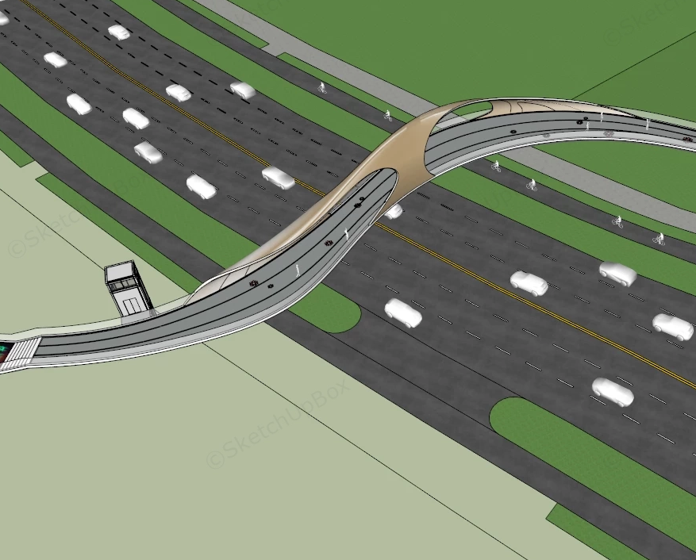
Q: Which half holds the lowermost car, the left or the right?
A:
right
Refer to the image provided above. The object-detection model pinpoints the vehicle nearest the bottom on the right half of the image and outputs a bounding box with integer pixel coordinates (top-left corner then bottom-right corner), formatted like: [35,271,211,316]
[593,379,634,409]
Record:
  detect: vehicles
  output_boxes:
[593,379,634,409]
[66,93,92,113]
[44,50,66,69]
[263,167,294,189]
[653,314,695,342]
[385,299,422,328]
[600,263,639,287]
[166,85,191,101]
[123,108,149,129]
[187,175,216,199]
[510,271,548,295]
[0,13,8,24]
[135,142,162,163]
[230,82,257,99]
[109,24,130,40]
